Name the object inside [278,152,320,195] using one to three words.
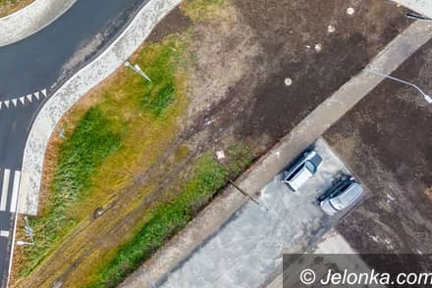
car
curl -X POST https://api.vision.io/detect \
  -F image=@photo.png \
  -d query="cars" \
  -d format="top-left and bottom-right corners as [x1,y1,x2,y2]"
[317,173,363,213]
[278,152,320,195]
